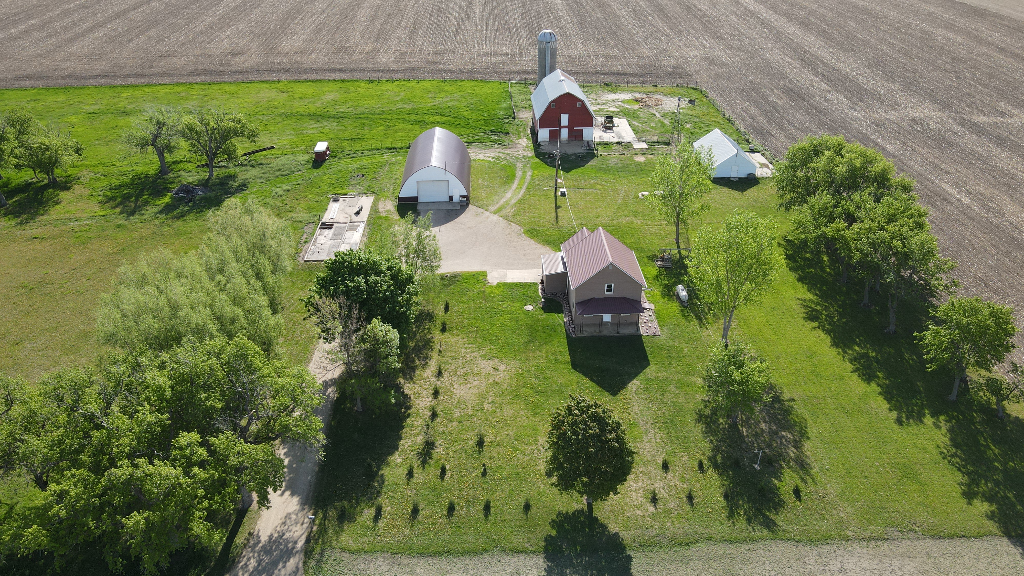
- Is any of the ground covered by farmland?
Yes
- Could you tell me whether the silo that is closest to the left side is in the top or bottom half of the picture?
top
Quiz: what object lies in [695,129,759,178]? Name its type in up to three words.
shed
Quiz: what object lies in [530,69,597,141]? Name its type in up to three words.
barn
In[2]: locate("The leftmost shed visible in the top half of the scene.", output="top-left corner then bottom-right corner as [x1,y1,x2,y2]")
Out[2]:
[397,126,472,203]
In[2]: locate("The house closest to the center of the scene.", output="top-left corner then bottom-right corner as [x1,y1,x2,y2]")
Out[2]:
[541,226,649,336]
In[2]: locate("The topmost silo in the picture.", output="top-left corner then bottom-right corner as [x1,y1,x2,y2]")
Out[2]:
[538,31,559,83]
